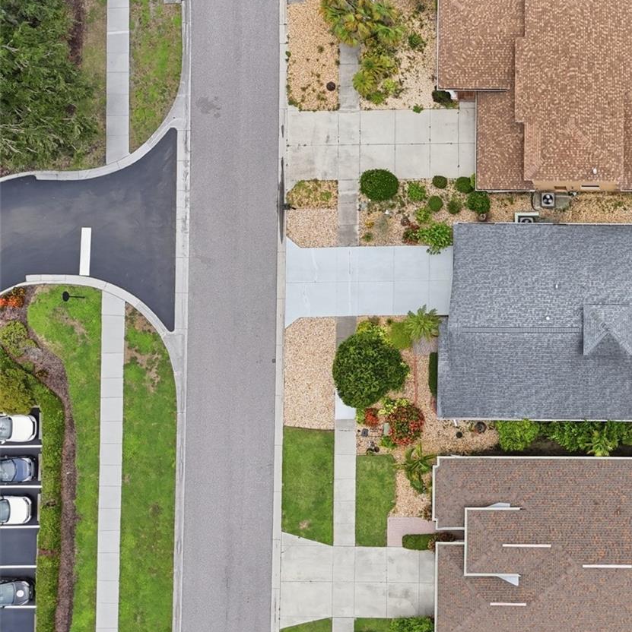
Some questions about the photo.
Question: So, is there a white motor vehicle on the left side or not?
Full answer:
Yes, a white motor vehicle appears on the left side.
